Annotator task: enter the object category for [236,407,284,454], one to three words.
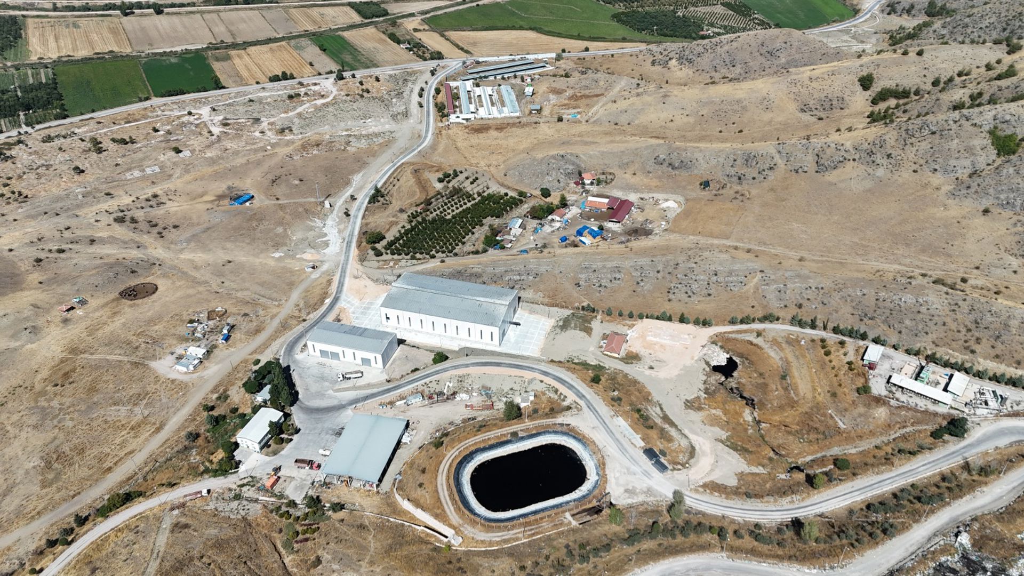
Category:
building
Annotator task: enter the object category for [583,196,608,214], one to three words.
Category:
barn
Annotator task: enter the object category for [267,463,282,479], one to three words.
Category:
work vehicle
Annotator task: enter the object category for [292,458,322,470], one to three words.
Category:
vehicle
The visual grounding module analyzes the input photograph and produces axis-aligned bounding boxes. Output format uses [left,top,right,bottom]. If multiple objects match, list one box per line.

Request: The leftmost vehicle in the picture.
[180,485,212,501]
